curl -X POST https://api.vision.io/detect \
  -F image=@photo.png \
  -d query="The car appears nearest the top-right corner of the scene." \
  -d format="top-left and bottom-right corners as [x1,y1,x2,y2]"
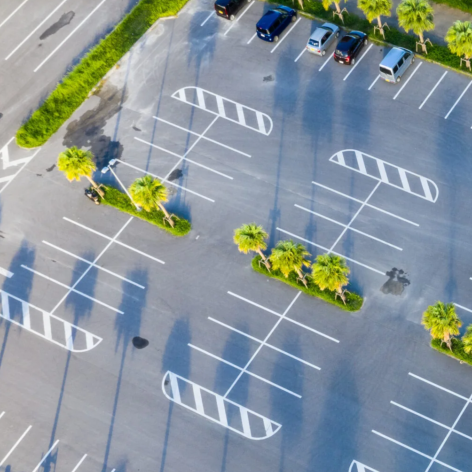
[378,45,413,81]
